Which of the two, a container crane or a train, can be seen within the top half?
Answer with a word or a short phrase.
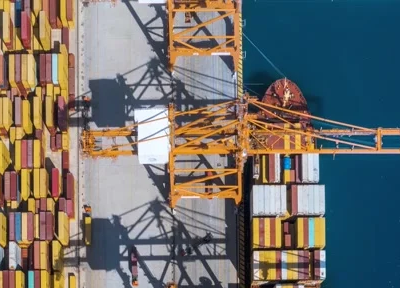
container crane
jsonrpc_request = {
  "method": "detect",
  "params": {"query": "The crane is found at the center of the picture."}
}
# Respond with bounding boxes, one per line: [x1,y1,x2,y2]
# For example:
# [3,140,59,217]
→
[79,86,400,214]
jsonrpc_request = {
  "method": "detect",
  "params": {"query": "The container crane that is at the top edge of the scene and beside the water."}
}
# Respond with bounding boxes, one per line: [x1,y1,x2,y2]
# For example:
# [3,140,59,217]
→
[134,0,249,77]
